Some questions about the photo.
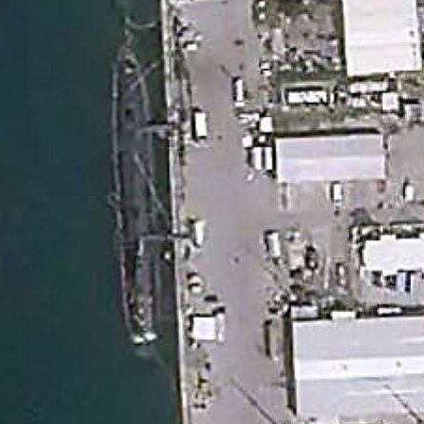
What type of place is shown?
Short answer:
port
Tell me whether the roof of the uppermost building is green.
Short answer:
No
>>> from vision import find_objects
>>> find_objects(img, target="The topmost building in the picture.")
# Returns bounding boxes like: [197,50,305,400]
[342,0,422,76]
